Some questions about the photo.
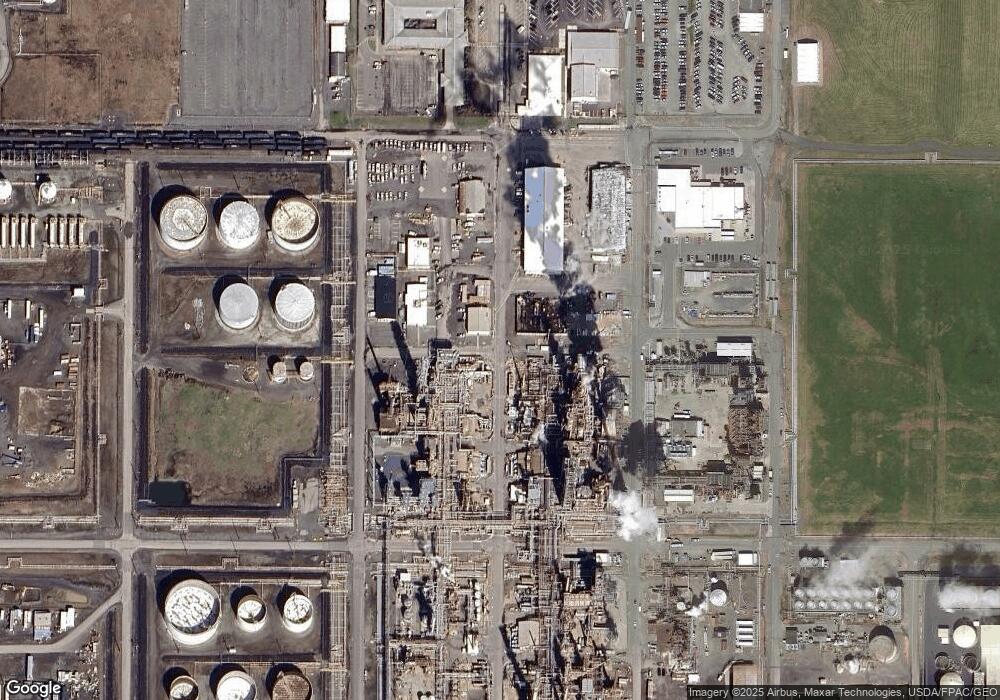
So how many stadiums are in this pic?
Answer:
zero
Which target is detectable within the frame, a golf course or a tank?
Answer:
tank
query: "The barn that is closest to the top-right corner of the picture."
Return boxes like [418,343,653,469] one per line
[797,41,818,86]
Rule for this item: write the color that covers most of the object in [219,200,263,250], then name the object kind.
white storage tank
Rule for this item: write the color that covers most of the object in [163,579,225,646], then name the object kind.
white storage tank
